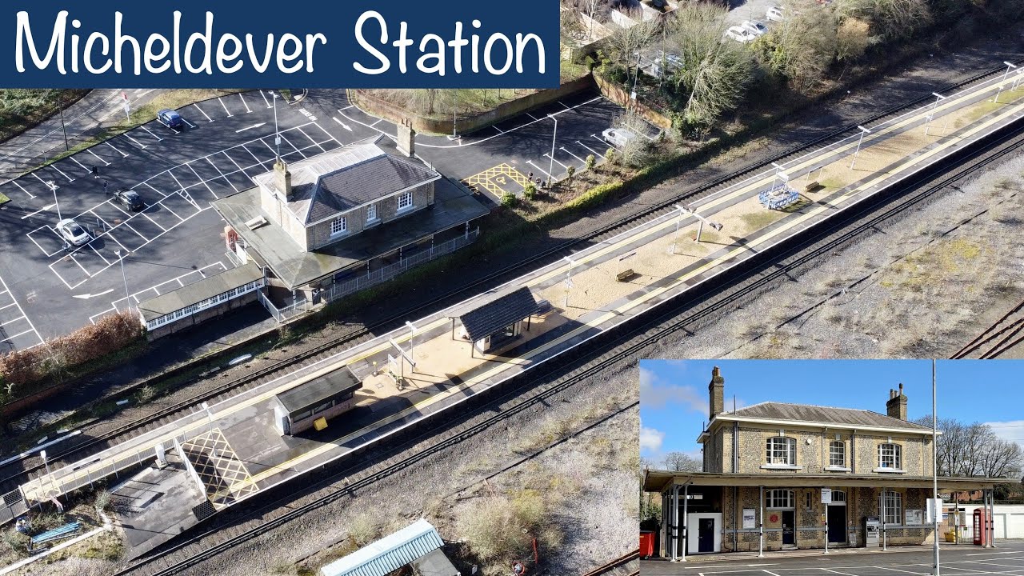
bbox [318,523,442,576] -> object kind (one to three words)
shed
